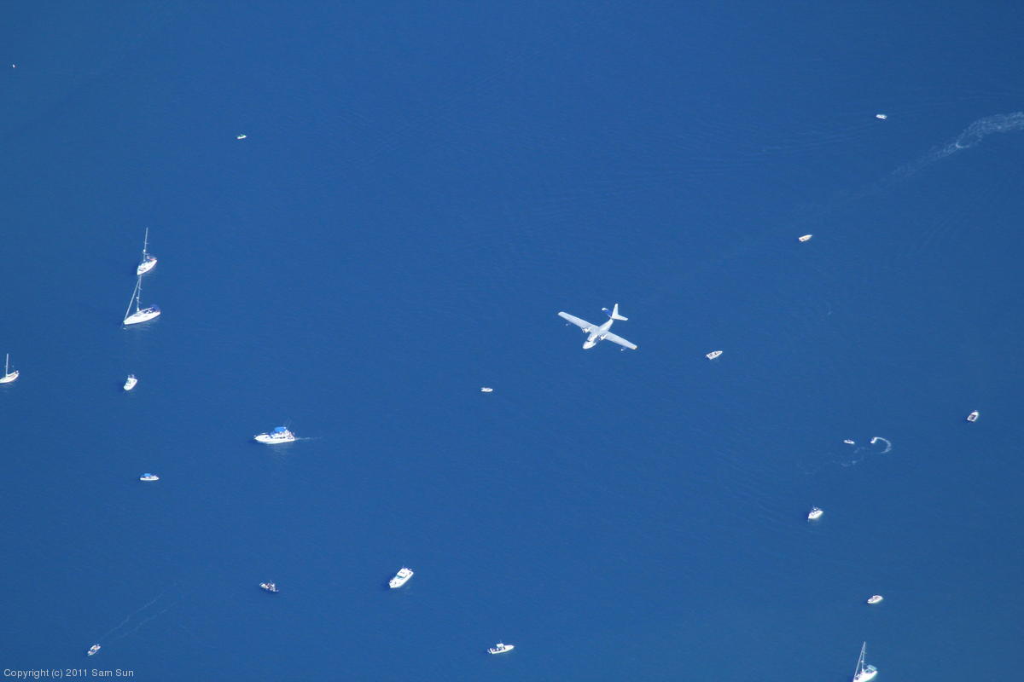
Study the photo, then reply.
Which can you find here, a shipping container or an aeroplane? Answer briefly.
aeroplane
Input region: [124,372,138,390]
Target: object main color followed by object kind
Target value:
white boat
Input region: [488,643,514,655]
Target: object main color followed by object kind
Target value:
white boat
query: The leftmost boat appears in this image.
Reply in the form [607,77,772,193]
[0,354,20,382]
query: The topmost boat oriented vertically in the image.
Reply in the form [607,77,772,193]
[137,227,156,275]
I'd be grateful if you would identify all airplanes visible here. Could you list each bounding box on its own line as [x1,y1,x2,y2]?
[559,305,637,352]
